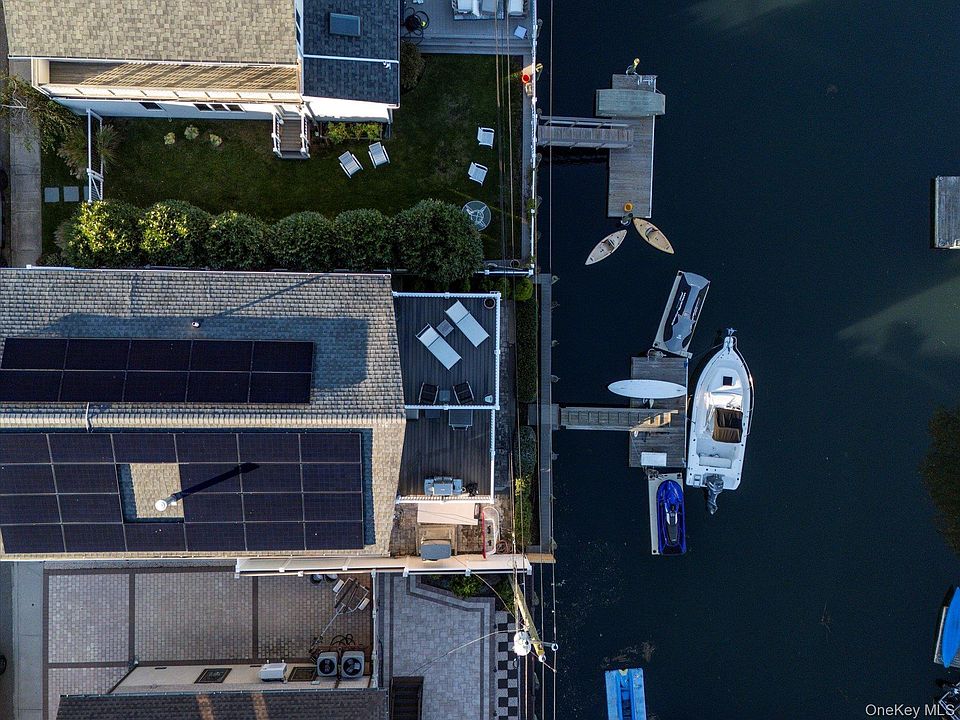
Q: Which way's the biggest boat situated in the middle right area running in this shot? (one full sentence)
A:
In this picture, the biggest boat situated in the middle right area lies from top to bottom.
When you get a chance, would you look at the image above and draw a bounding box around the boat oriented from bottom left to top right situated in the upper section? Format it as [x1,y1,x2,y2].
[586,231,628,265]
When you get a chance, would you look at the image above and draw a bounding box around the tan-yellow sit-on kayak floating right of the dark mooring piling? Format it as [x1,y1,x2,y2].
[633,218,675,253]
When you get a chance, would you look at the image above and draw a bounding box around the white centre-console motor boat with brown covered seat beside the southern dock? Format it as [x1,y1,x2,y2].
[686,328,758,517]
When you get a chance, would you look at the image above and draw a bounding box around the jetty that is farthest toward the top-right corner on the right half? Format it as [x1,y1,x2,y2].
[928,176,960,249]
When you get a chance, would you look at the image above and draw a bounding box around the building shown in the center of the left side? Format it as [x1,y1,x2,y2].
[0,266,406,559]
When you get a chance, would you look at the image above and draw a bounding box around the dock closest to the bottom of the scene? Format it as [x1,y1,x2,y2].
[927,602,960,668]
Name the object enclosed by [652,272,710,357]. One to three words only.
pier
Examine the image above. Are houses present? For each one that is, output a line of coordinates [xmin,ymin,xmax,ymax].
[52,668,389,720]
[0,0,405,157]
[0,266,406,559]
